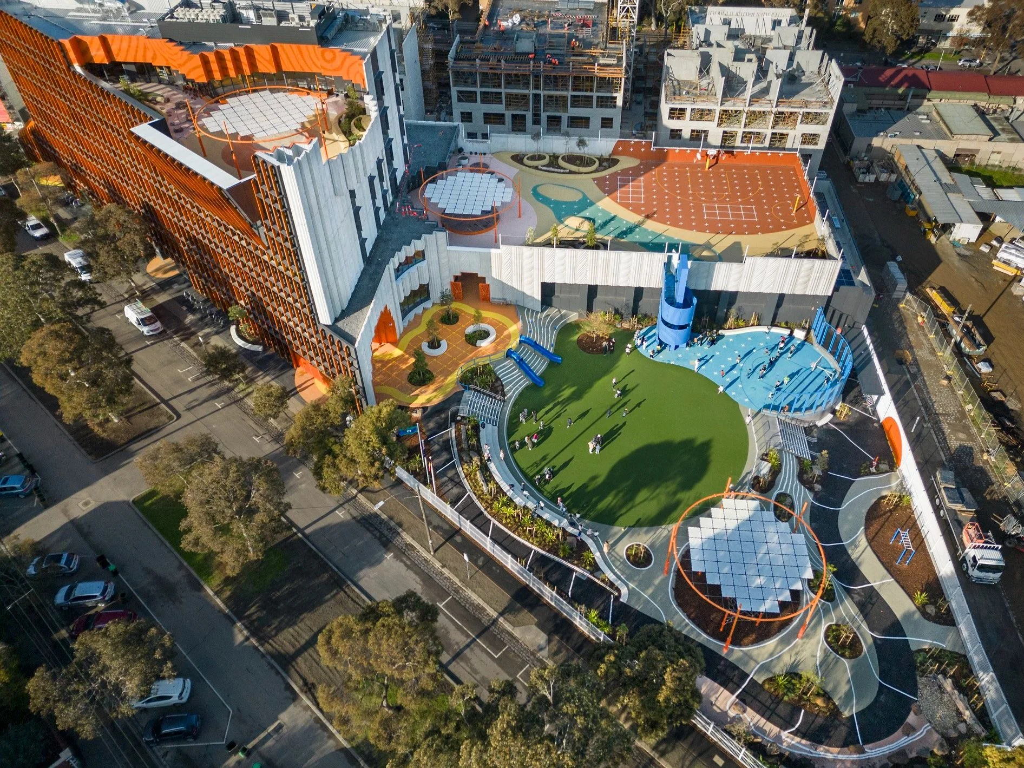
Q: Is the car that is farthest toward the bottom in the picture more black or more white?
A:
black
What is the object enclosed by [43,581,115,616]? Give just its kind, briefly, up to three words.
car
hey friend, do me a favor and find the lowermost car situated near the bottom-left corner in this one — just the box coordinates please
[129,715,213,757]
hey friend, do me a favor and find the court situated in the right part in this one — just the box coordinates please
[634,324,839,411]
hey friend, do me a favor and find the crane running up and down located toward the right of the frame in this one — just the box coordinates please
[619,0,645,139]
